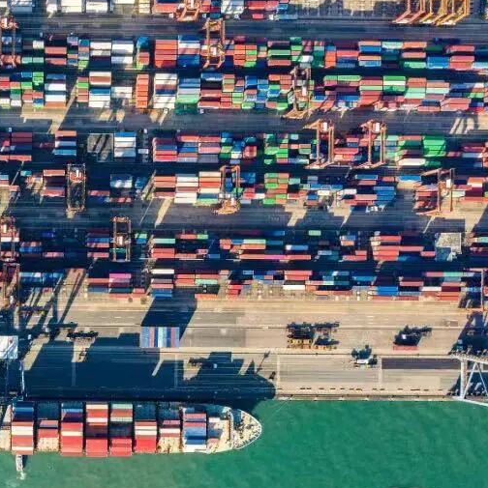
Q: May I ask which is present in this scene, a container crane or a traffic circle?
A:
container crane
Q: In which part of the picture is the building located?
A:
right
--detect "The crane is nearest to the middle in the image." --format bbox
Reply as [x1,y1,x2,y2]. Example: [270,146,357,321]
[214,162,240,218]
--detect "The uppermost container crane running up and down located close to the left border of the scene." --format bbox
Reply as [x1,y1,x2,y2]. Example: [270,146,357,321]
[0,14,20,77]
